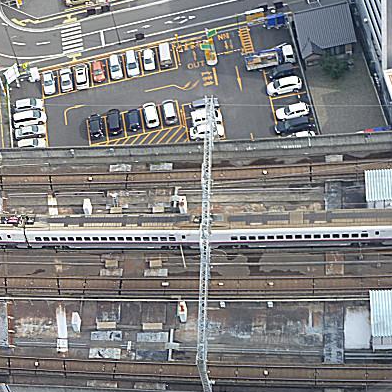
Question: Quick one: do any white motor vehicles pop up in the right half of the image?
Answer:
Yes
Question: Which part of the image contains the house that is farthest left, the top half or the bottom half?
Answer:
top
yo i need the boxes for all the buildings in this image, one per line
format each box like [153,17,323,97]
[293,1,355,80]
[349,0,392,126]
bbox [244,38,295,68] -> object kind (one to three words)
truck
